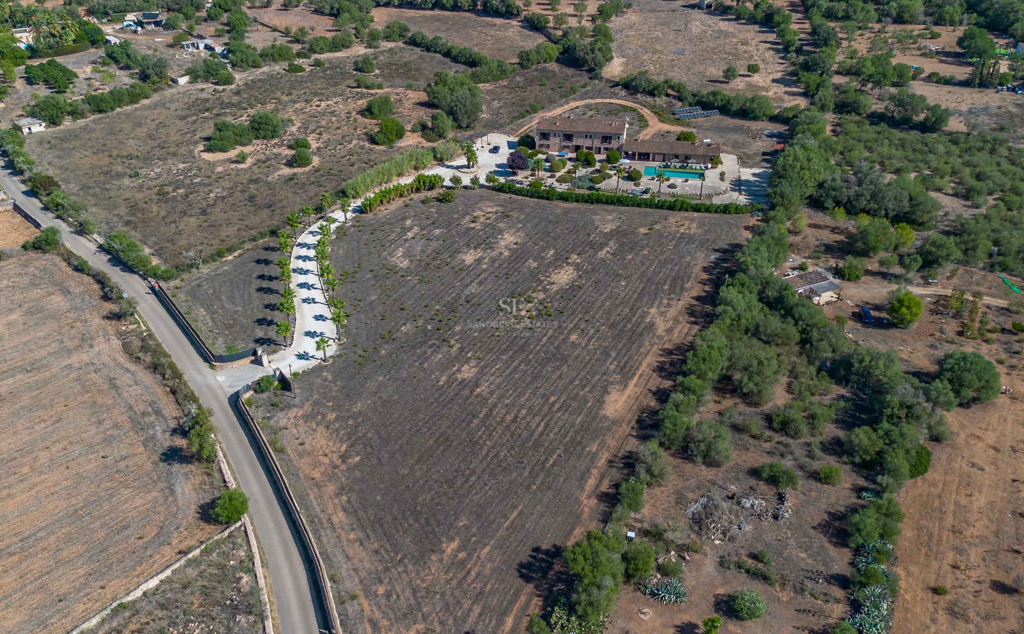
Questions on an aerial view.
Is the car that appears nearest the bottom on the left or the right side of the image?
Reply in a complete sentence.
It is on the right.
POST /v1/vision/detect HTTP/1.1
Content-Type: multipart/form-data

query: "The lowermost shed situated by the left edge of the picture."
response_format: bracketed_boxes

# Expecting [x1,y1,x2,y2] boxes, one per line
[9,114,46,133]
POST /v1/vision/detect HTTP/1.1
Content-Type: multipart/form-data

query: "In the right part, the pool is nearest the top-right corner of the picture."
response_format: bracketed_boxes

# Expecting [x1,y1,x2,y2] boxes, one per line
[642,165,706,181]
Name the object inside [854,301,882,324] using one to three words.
car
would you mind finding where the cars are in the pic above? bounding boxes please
[466,142,483,151]
[491,145,501,154]
[854,301,882,324]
